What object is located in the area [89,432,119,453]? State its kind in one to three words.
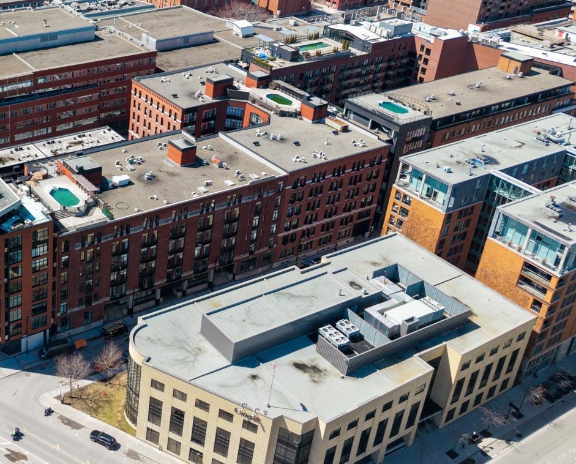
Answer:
car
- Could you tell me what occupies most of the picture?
buildings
